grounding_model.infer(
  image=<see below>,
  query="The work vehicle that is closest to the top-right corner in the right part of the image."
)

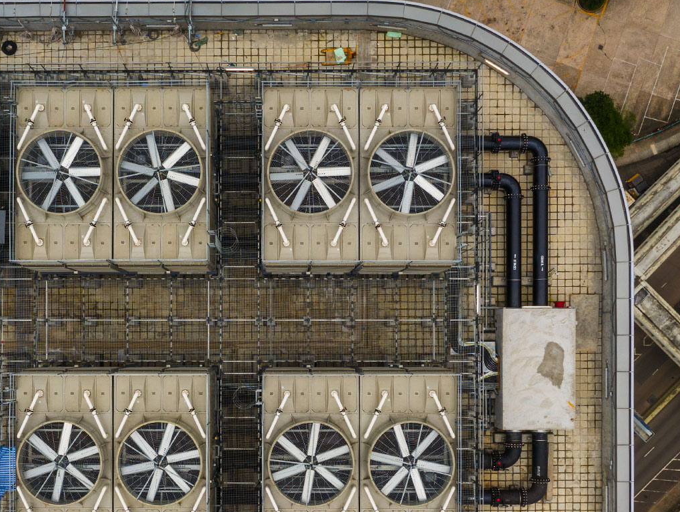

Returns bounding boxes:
[619,166,650,194]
